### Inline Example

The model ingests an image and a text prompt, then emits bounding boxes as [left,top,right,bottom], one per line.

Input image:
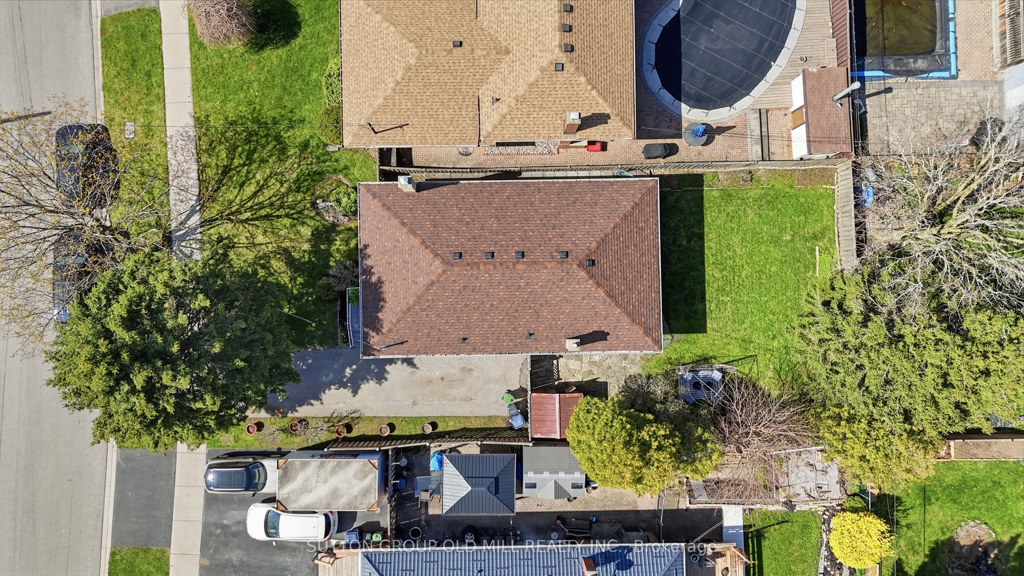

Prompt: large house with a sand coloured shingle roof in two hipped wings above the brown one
[340,0,636,150]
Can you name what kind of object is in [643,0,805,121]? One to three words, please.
swimming pool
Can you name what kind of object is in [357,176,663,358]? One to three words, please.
house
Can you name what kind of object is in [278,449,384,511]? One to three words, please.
trailer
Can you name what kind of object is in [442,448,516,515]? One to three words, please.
gazebo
